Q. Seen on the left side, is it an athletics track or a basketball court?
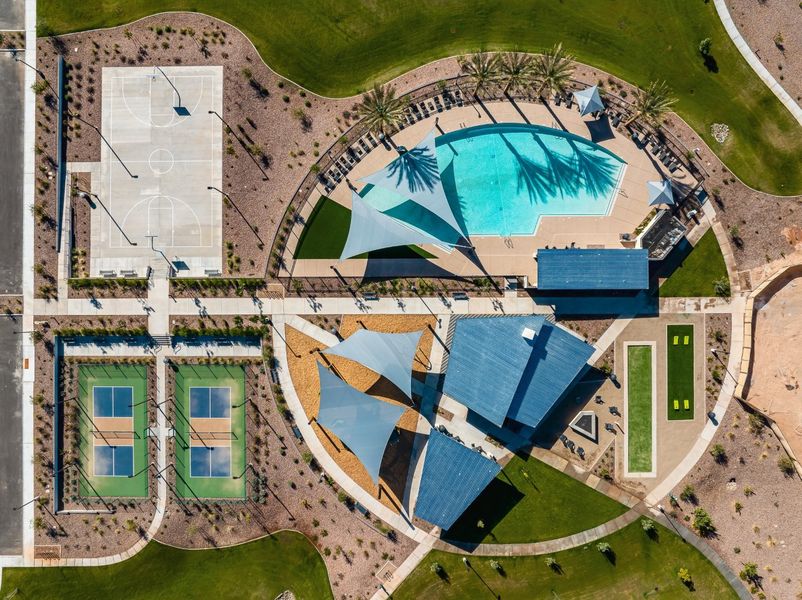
basketball court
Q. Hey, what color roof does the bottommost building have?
blue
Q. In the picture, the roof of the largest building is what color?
blue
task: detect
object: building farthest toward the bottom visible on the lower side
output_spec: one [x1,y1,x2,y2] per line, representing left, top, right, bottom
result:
[414,428,502,530]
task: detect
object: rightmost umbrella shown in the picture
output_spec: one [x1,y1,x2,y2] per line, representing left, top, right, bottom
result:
[647,180,674,206]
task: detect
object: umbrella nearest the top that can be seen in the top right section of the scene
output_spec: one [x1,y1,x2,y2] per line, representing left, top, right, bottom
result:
[573,85,605,117]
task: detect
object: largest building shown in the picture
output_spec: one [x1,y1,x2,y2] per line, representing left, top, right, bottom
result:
[443,316,596,428]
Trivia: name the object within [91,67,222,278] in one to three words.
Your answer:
basketball court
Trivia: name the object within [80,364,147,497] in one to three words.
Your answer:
sports court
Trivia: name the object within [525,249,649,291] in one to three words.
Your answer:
building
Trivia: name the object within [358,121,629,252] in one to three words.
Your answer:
swimming pool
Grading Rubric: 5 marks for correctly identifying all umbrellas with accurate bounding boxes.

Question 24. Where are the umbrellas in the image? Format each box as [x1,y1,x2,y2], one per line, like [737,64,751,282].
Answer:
[573,85,605,117]
[647,180,674,206]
